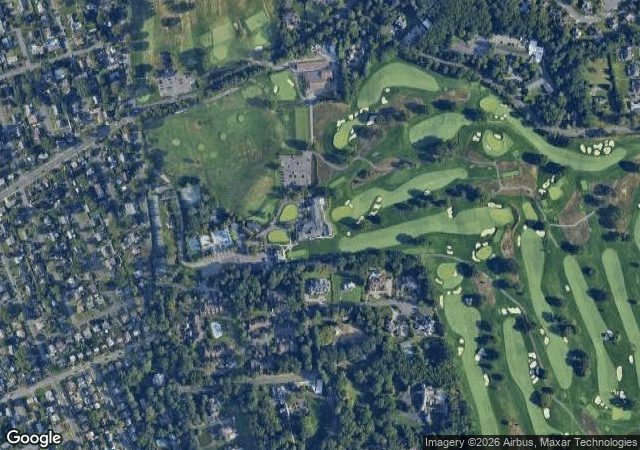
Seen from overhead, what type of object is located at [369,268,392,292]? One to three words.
house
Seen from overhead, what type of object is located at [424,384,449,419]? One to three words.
house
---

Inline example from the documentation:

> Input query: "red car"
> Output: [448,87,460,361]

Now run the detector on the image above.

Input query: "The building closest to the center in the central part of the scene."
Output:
[300,197,332,242]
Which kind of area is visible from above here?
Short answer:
golf course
